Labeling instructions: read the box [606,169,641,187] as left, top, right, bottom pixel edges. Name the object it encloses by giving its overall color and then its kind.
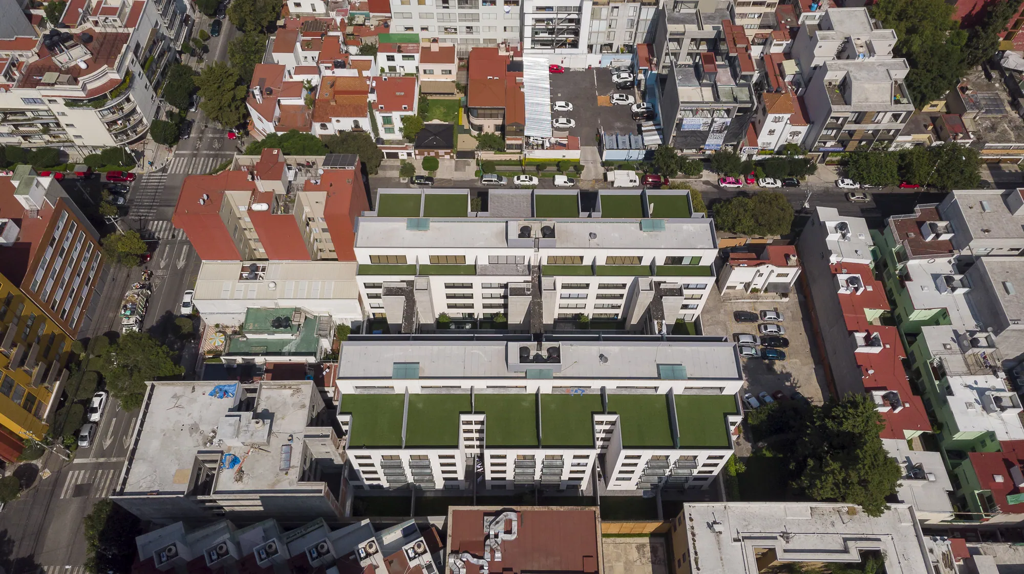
white vehicle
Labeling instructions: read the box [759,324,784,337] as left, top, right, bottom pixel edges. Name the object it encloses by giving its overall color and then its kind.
gray vehicle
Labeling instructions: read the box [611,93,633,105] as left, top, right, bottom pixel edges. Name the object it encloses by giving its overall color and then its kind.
white vehicle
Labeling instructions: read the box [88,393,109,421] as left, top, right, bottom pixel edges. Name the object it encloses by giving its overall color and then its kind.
white car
